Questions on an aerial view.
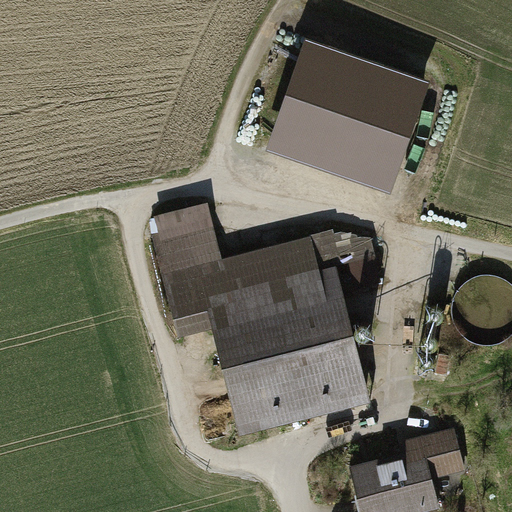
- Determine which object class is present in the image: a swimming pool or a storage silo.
storage silo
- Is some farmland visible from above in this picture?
Yes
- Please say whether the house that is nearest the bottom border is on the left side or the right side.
right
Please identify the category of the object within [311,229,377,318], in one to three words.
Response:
shed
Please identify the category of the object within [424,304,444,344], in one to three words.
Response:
silo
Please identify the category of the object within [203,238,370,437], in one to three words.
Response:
building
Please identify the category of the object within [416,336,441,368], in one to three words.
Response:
silo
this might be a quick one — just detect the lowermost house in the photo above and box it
[350,428,464,512]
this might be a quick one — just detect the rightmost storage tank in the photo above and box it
[451,274,512,346]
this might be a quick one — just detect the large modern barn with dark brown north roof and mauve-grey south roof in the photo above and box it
[267,40,428,194]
